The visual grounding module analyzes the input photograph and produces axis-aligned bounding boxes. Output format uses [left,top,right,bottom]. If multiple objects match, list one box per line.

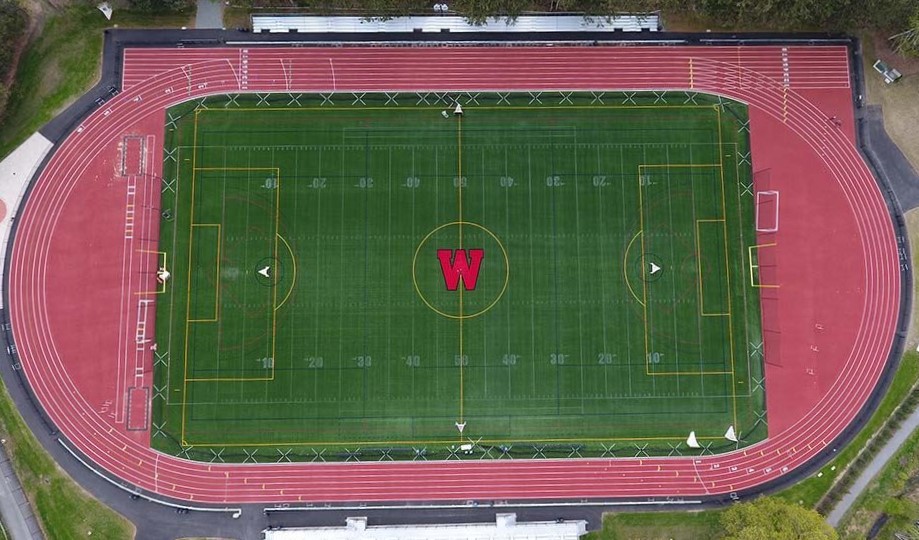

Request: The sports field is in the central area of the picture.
[151,91,769,463]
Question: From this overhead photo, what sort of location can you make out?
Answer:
sports ground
